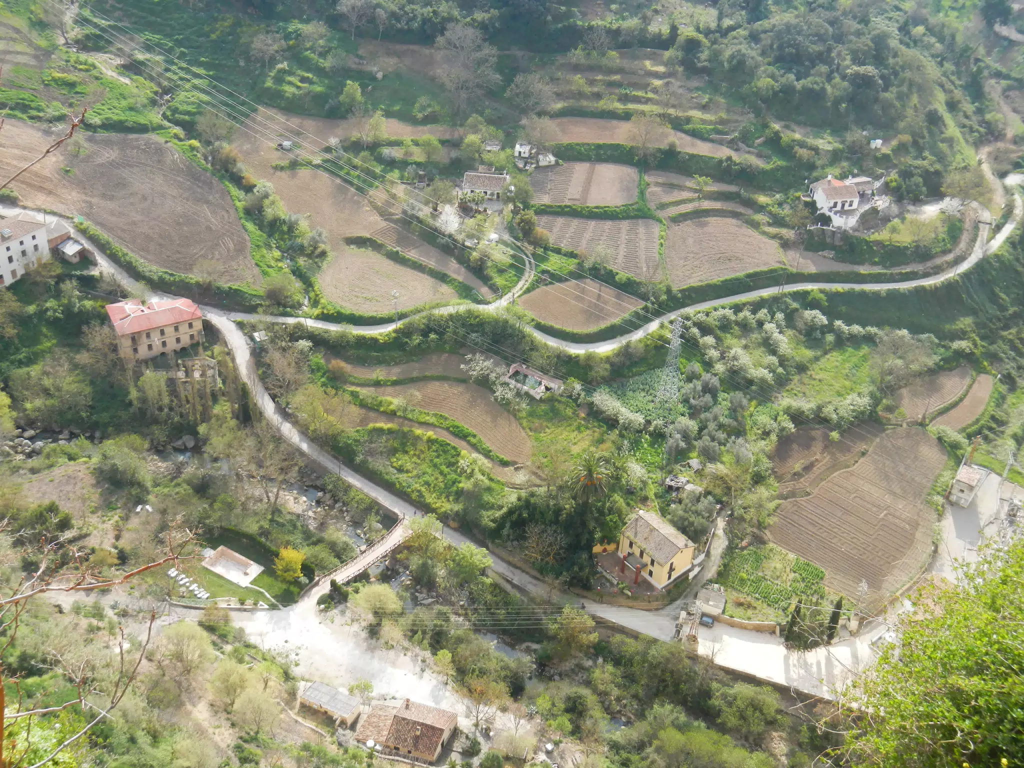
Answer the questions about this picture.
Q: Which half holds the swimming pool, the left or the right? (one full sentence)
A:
The swimming pool sits on the left side.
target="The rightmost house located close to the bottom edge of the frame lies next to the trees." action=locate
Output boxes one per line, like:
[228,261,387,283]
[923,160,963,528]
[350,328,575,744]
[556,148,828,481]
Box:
[354,697,457,767]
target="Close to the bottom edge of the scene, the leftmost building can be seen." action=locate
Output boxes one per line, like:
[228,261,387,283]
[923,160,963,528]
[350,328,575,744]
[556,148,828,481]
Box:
[297,677,363,737]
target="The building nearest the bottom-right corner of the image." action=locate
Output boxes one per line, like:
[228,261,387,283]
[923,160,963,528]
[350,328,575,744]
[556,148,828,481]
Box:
[948,462,993,513]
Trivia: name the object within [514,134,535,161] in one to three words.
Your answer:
shed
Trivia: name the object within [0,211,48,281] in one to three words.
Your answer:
house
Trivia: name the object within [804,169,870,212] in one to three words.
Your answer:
house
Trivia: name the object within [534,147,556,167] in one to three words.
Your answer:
shed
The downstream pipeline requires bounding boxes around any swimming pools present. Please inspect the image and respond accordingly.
[202,544,266,588]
